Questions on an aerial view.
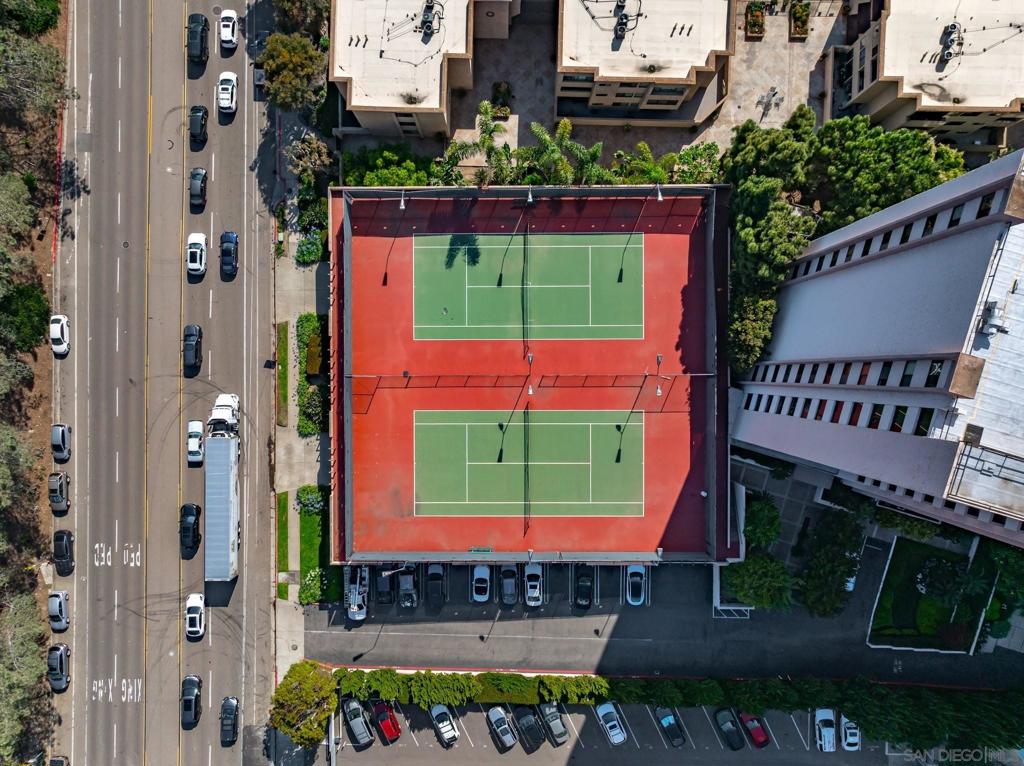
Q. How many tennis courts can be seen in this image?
2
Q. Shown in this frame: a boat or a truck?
truck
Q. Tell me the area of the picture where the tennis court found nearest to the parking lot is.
center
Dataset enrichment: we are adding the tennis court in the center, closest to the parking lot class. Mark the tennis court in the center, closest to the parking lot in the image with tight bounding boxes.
[414,411,644,517]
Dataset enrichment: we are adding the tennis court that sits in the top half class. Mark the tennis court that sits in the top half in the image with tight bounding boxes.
[414,234,643,340]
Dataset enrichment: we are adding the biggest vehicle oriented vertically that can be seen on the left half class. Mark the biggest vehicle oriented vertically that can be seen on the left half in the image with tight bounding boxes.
[206,391,244,581]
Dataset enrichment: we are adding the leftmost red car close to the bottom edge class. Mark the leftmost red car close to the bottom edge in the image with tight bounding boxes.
[374,701,402,742]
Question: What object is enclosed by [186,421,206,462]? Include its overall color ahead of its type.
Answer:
white car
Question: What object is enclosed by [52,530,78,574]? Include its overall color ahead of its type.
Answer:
black car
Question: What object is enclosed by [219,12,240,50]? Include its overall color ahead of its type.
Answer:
white car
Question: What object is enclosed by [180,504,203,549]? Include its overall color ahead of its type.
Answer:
black car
